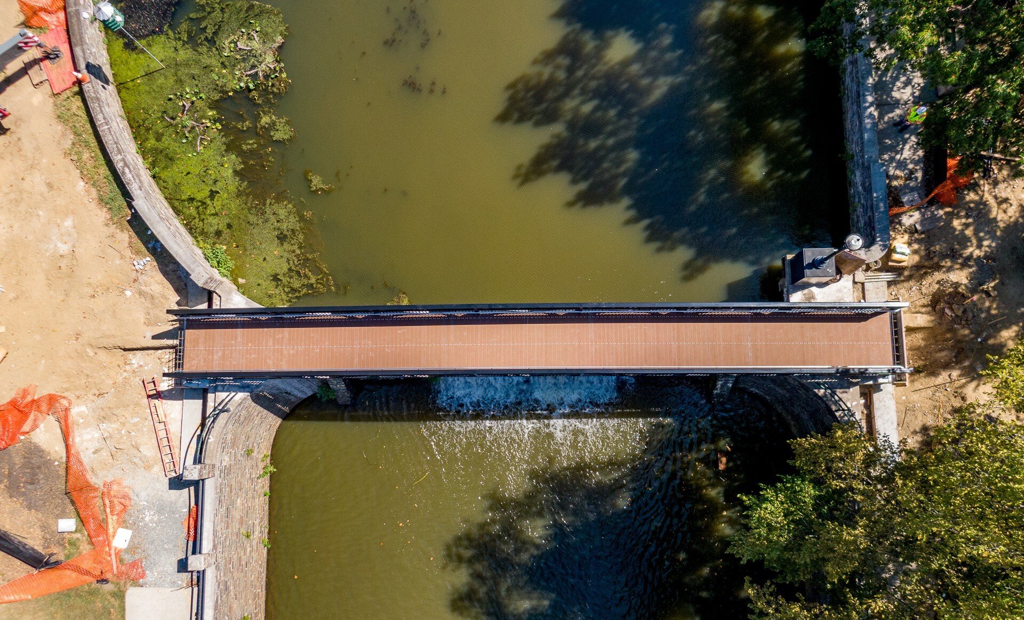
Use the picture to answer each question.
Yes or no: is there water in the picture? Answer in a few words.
Yes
